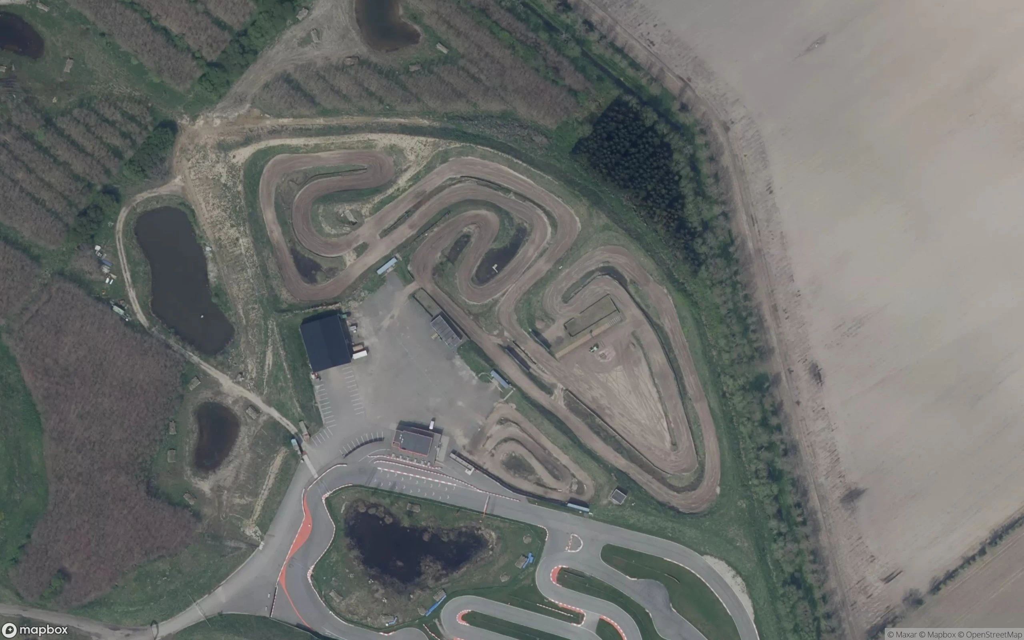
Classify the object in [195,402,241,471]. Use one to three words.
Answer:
pond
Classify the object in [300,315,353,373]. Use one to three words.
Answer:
barn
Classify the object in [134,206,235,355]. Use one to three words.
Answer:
pond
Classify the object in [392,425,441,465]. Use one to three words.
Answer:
building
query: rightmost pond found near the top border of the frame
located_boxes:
[355,0,420,52]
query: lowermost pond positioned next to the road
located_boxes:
[346,514,486,583]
